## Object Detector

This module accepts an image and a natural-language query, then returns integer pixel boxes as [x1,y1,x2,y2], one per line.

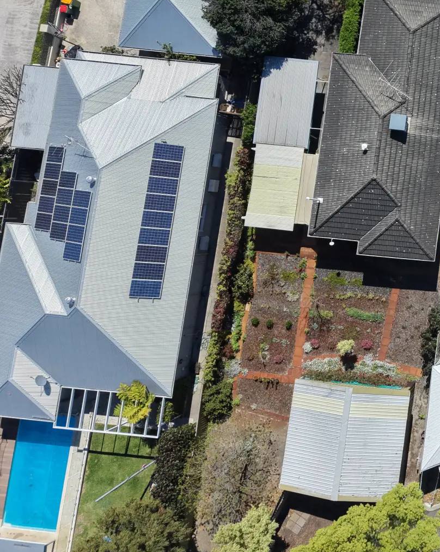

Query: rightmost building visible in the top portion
[302,0,440,262]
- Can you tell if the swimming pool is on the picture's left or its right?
left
